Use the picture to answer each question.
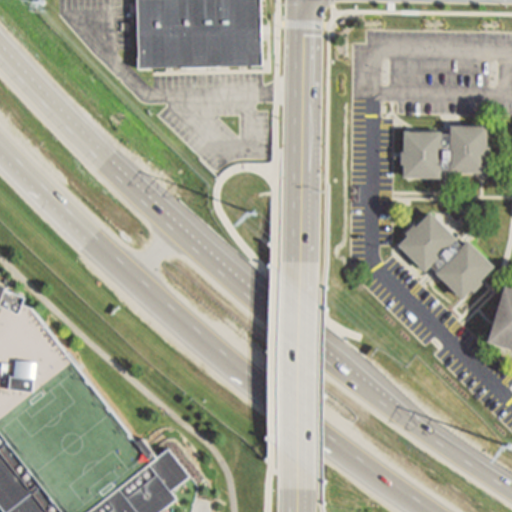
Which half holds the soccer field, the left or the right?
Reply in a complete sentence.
It is on the left.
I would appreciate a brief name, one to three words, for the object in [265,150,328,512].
bridge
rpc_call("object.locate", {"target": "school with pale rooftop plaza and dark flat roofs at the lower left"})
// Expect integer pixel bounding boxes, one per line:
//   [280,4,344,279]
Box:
[0,284,189,512]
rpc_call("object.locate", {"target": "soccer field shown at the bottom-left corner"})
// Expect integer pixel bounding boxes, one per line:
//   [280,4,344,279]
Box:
[0,364,148,512]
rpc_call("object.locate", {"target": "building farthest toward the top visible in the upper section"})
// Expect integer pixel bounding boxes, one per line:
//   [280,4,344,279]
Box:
[138,0,262,72]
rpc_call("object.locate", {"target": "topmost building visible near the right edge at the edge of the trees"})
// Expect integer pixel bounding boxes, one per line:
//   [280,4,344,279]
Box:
[402,126,487,180]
